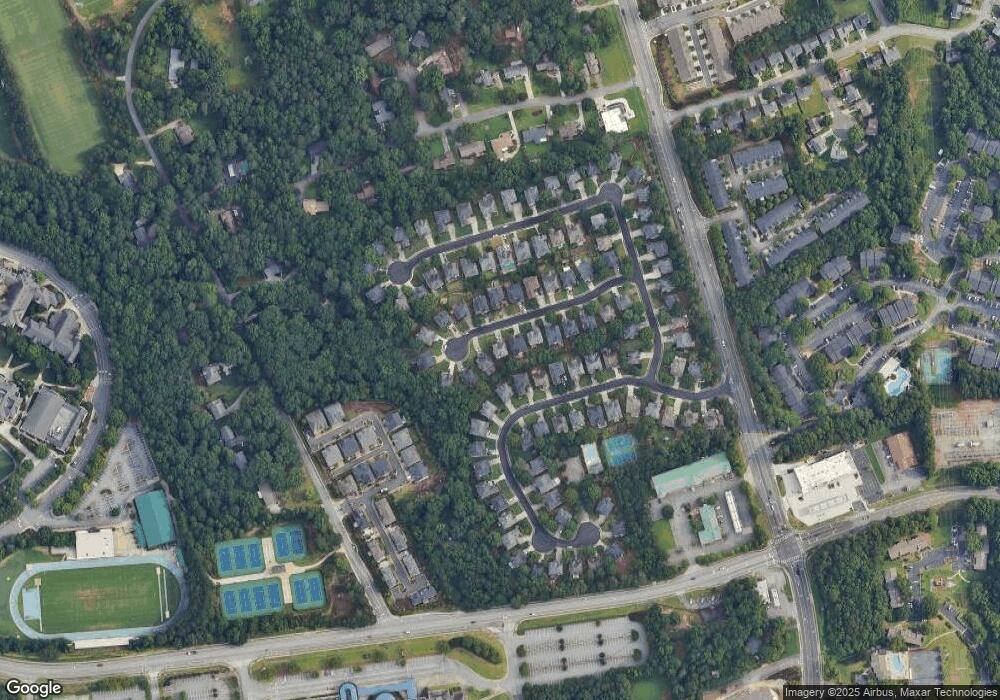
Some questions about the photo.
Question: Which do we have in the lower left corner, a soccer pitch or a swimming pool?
soccer pitch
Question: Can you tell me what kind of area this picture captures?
residential area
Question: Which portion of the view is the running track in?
bottom left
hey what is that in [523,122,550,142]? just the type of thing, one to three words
house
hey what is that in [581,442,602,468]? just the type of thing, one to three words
swimming pool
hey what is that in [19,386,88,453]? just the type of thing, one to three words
building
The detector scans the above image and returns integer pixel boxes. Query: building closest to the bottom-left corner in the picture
[75,528,114,559]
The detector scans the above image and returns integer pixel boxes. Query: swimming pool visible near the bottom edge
[880,650,910,679]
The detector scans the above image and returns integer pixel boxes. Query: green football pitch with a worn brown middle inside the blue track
[21,564,179,632]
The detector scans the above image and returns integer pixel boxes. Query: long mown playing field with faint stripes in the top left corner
[0,0,104,169]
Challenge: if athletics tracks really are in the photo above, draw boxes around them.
[10,552,188,641]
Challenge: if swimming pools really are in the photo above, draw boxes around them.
[502,260,517,272]
[885,362,911,397]
[581,442,602,468]
[880,650,910,679]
